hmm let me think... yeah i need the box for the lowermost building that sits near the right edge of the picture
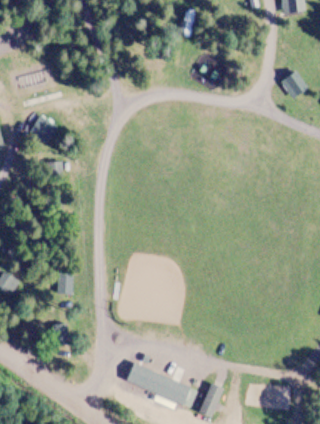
[282,70,308,99]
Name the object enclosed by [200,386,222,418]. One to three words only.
shed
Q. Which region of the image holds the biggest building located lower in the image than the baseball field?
bottom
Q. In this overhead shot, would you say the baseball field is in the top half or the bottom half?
bottom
